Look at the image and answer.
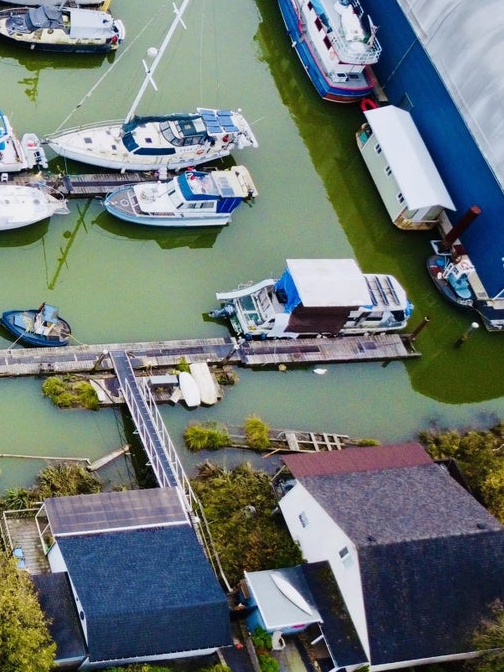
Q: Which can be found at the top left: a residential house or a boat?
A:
boat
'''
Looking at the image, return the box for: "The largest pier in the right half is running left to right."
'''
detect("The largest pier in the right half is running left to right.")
[240,333,413,369]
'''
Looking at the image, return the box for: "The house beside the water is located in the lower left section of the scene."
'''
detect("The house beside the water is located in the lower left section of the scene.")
[4,485,227,672]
